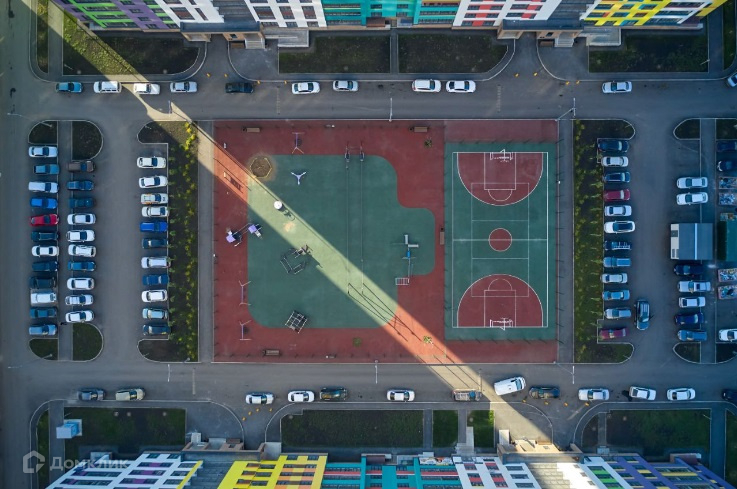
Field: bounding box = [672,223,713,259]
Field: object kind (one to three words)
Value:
shed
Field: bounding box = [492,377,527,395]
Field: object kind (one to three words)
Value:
vehicle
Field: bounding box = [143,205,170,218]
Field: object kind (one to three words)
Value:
vehicle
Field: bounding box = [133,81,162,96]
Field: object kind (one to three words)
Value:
car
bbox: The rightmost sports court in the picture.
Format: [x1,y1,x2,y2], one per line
[443,122,556,362]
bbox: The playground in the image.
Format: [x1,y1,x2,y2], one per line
[214,122,443,362]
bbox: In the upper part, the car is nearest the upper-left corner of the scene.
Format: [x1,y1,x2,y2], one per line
[56,80,84,94]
